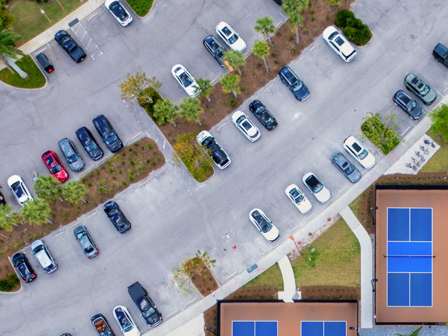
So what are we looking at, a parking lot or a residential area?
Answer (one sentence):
It's a parking lot.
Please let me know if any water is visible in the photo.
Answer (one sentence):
No, there is no water in the image.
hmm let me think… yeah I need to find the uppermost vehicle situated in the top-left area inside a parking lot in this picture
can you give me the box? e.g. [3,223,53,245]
[104,0,131,28]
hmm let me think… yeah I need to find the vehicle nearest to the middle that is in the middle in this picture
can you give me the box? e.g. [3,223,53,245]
[198,130,229,171]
